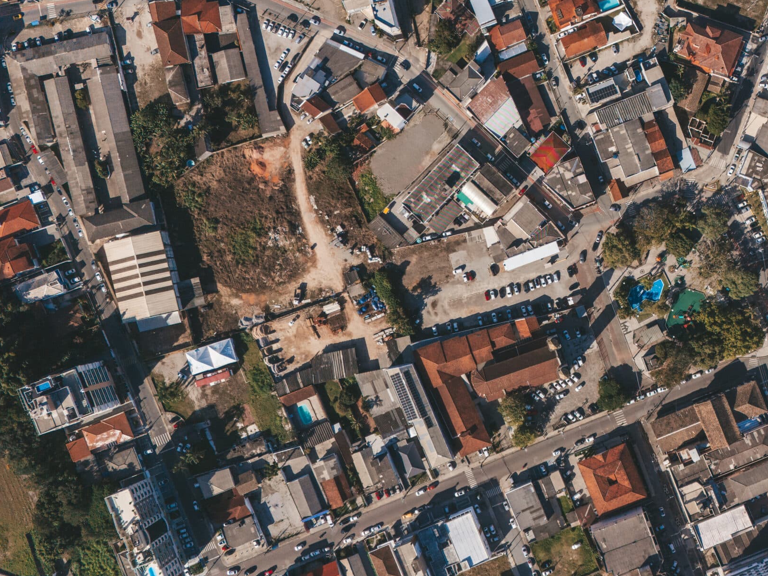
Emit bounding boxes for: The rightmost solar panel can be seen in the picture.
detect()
[588,84,618,103]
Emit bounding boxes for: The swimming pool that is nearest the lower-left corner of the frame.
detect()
[297,403,314,425]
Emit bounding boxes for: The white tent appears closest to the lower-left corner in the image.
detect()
[185,337,241,374]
